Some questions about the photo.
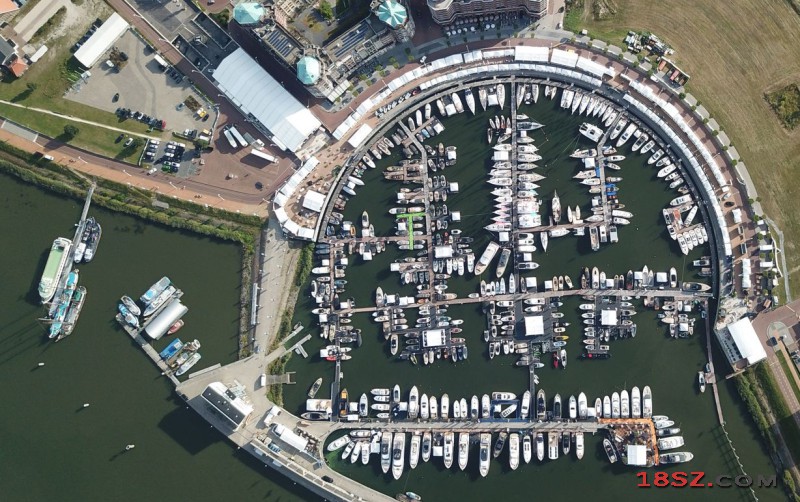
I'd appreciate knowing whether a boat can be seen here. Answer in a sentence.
Yes, the photo shows a boat.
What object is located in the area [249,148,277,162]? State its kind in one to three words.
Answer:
vehicle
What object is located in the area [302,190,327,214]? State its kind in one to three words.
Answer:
tent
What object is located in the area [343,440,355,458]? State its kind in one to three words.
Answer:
boat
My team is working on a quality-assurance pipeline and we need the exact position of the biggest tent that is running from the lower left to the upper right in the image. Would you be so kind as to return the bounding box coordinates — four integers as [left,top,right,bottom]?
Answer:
[74,12,132,69]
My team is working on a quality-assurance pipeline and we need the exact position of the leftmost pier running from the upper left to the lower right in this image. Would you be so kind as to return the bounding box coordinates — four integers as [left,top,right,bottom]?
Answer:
[115,313,181,387]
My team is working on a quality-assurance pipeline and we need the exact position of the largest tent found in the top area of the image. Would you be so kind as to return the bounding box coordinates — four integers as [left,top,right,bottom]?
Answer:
[212,48,324,158]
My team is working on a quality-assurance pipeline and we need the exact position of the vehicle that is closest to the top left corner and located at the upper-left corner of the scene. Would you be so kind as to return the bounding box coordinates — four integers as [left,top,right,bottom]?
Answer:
[29,45,49,62]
